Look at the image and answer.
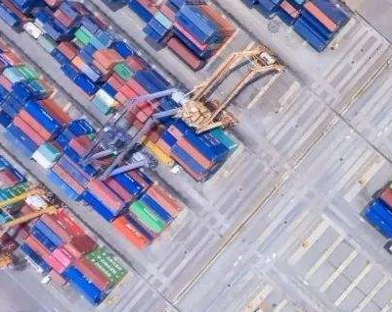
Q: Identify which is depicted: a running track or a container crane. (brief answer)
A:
container crane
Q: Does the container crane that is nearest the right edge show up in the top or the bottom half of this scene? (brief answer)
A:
top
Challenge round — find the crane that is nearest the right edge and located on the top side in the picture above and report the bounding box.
[171,44,286,146]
